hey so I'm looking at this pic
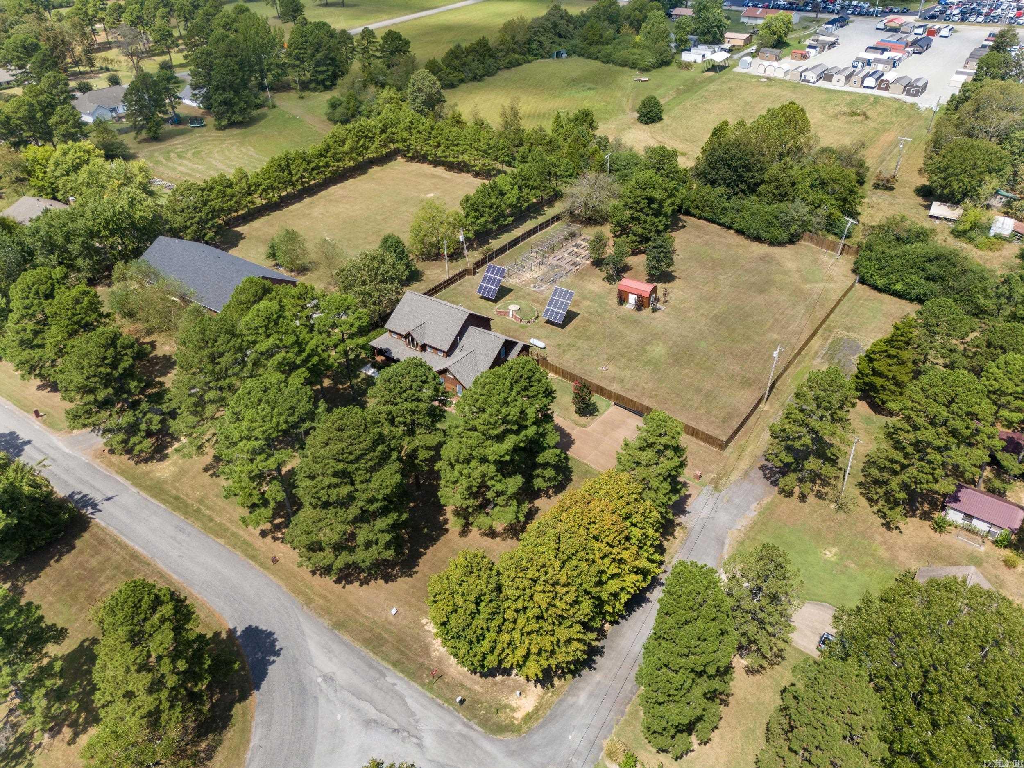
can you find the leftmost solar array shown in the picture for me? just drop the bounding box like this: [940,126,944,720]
[478,265,505,299]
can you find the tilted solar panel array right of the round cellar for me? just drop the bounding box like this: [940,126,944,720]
[542,288,572,325]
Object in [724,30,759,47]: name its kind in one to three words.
house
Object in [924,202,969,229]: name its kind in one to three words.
shed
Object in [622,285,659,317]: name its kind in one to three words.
shed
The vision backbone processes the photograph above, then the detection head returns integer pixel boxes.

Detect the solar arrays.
[478,265,505,299]
[542,288,572,325]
